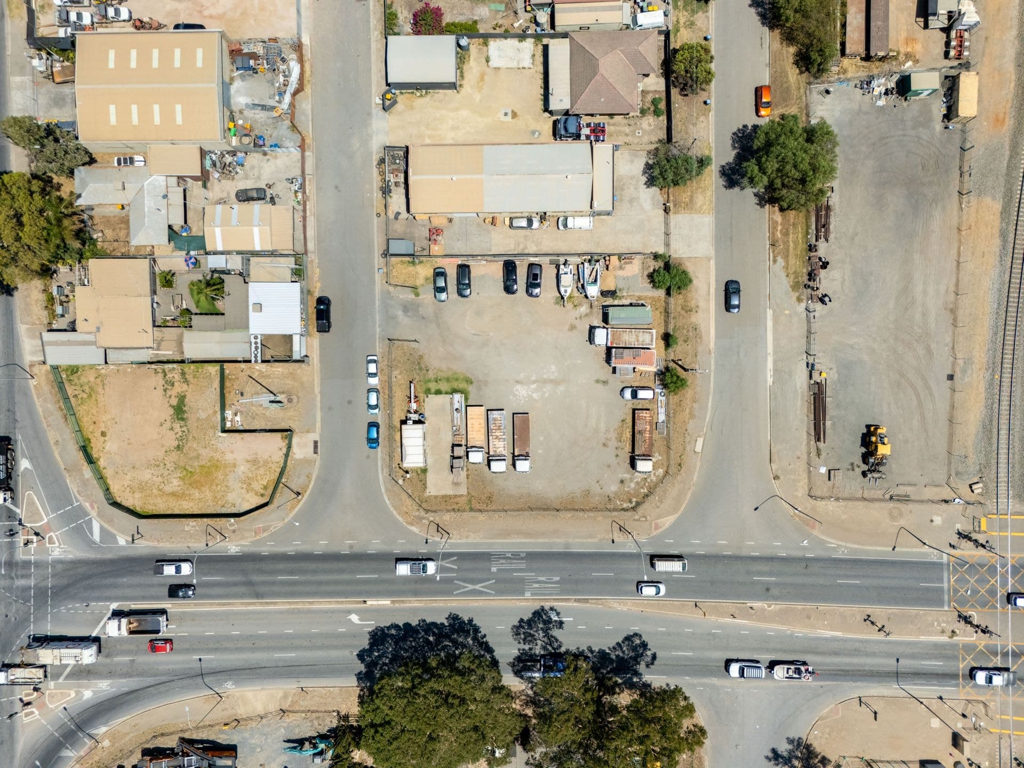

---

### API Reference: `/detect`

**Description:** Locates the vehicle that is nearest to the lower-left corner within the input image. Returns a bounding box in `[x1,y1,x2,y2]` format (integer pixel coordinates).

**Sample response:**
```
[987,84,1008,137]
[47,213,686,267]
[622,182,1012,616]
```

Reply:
[0,665,49,687]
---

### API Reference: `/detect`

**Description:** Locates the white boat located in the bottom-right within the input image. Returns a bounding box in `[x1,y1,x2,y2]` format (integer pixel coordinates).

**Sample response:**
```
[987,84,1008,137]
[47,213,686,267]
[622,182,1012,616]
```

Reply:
[766,661,818,681]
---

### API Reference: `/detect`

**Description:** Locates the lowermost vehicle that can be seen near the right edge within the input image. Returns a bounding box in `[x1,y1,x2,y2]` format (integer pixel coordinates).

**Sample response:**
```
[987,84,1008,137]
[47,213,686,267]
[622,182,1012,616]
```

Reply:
[969,667,1012,686]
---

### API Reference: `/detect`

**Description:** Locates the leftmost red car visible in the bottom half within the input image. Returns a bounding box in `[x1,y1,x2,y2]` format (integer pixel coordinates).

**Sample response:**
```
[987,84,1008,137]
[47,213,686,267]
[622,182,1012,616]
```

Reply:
[149,638,175,654]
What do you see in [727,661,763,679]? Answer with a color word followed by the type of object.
white car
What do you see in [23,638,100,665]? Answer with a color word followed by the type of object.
white truck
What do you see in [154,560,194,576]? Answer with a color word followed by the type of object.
white vehicle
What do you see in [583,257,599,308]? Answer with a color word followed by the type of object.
white boat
